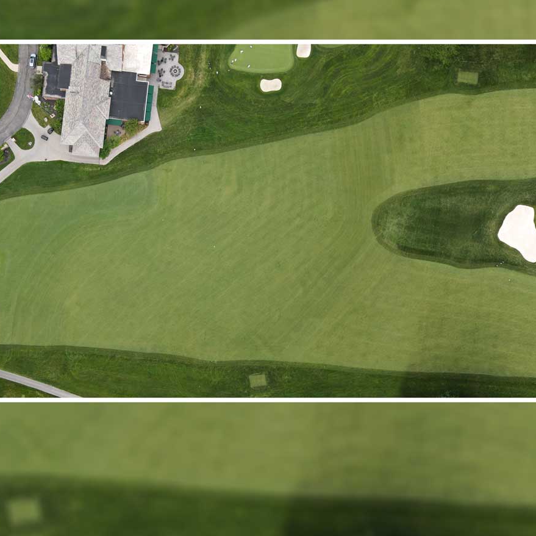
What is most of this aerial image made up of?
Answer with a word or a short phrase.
grass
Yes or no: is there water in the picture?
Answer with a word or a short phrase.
No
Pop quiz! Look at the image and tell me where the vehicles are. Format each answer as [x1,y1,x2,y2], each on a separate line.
[39,135,48,140]
[28,53,35,69]
[44,127,53,135]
